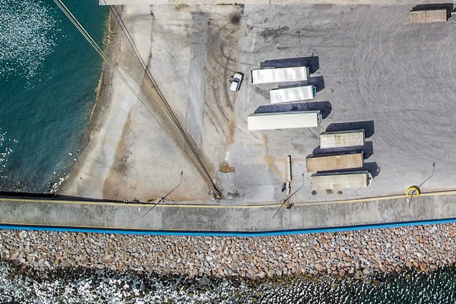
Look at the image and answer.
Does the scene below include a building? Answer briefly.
No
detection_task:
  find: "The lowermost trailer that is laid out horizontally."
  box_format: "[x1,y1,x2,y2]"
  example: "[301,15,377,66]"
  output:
[311,168,372,190]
